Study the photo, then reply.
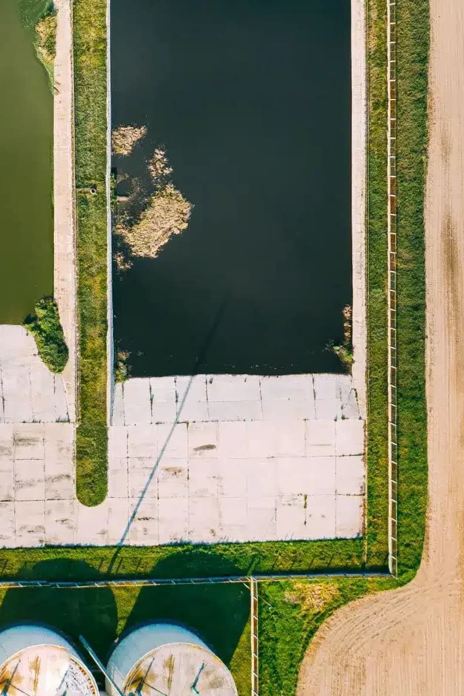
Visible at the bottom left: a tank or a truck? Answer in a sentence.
You can see a tank at the bottom left.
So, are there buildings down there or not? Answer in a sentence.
No, this view has no building in it.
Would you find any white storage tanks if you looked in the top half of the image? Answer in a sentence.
No, looking in the top half of the image, there is no white storage tank.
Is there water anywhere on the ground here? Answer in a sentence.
Yes, water shows up in the scene.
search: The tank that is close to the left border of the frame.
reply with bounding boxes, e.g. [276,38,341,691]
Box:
[0,623,98,696]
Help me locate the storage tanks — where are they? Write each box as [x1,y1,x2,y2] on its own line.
[108,622,235,696]
[0,623,98,696]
